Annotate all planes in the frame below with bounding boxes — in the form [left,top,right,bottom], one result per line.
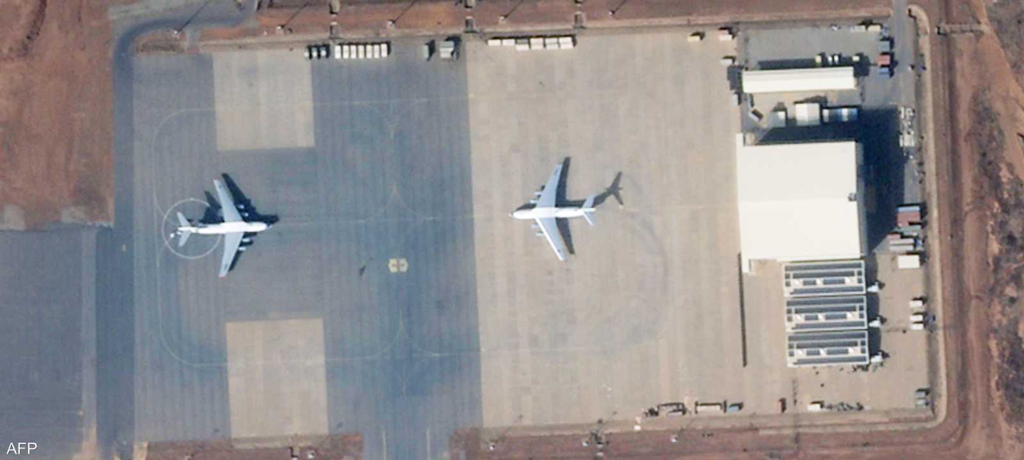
[510,164,598,262]
[177,179,271,277]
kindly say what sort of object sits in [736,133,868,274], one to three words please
hangar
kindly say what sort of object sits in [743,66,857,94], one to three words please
shed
